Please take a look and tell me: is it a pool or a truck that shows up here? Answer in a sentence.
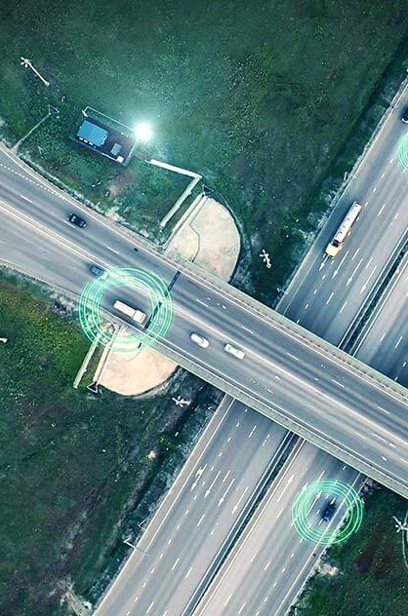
The image shows a truck.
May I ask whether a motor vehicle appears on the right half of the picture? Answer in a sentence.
Yes, there is a motor vehicle on the right half of the picture.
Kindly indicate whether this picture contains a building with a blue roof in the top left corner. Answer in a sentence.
Yes, a building with a blue roof appears in the top left corner.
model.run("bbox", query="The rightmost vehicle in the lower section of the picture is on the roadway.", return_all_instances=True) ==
[320,499,336,521]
